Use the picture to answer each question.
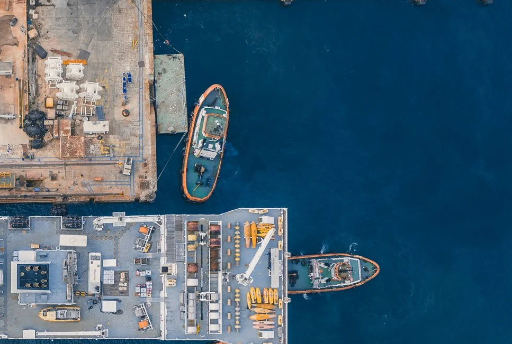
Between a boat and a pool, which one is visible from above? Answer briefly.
boat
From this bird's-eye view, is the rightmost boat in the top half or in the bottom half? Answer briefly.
bottom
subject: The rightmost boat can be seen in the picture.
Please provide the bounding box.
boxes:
[290,250,386,296]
